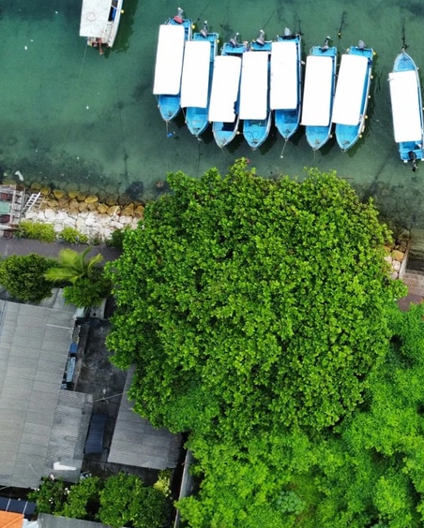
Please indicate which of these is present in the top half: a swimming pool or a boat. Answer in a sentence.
What appears in the top half is a boat.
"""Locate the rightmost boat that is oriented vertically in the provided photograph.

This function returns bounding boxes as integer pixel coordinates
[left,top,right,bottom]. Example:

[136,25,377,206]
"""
[389,50,424,172]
